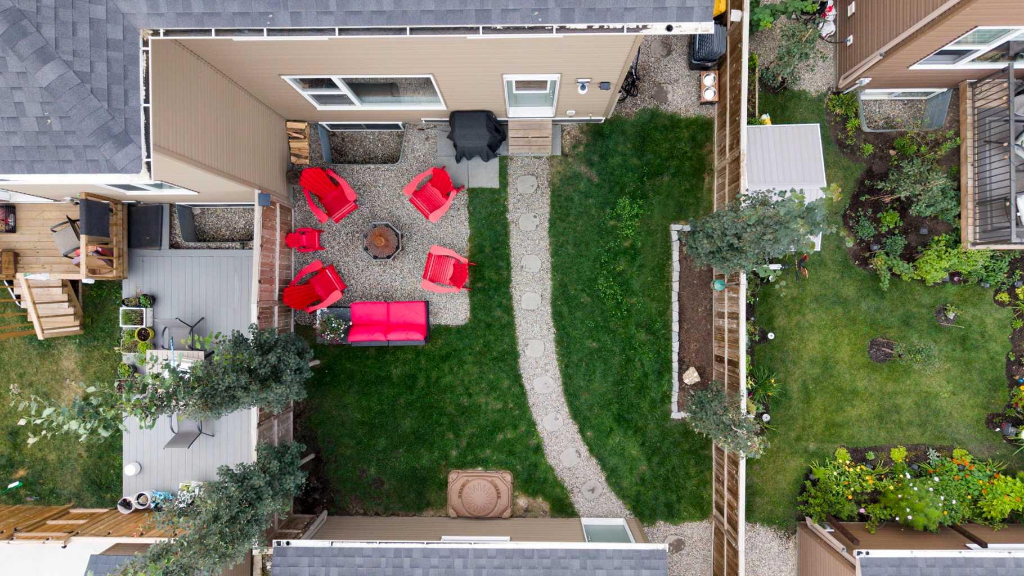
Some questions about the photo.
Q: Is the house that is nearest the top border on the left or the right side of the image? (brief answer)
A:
right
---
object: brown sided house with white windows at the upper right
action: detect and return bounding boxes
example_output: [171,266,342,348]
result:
[839,0,1024,102]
